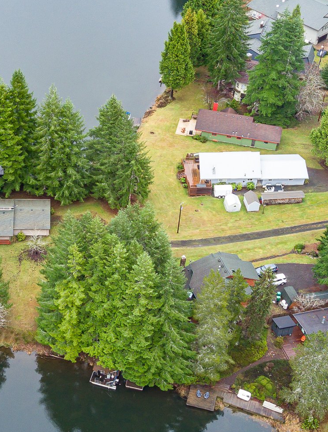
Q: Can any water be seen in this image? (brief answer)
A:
Yes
